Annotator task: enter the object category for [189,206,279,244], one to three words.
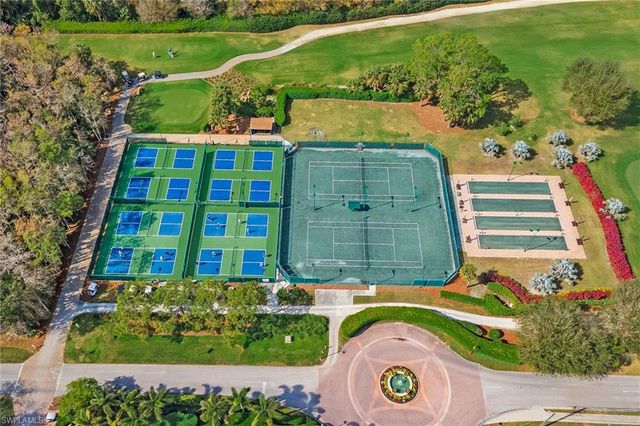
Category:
sports court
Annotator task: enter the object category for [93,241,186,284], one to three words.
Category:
sports court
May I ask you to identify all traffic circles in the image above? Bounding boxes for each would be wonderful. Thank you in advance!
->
[318,322,491,426]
